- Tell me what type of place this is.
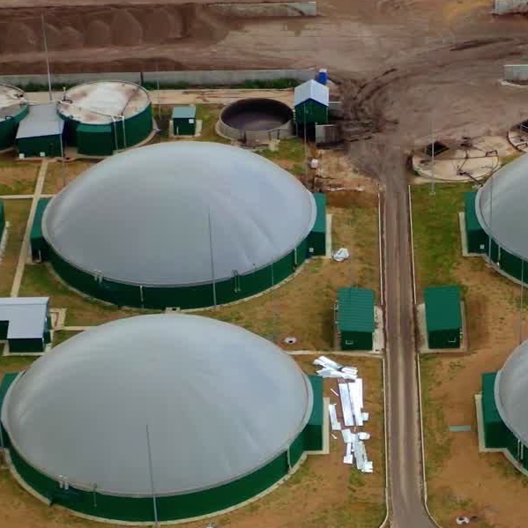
industrial area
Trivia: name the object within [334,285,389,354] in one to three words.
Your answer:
shed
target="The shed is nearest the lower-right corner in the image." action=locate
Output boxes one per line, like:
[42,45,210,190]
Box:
[411,284,467,353]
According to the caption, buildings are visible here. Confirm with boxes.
[166,105,204,139]
[334,285,389,354]
[11,101,71,163]
[292,78,330,140]
[0,294,72,362]
[411,284,467,353]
